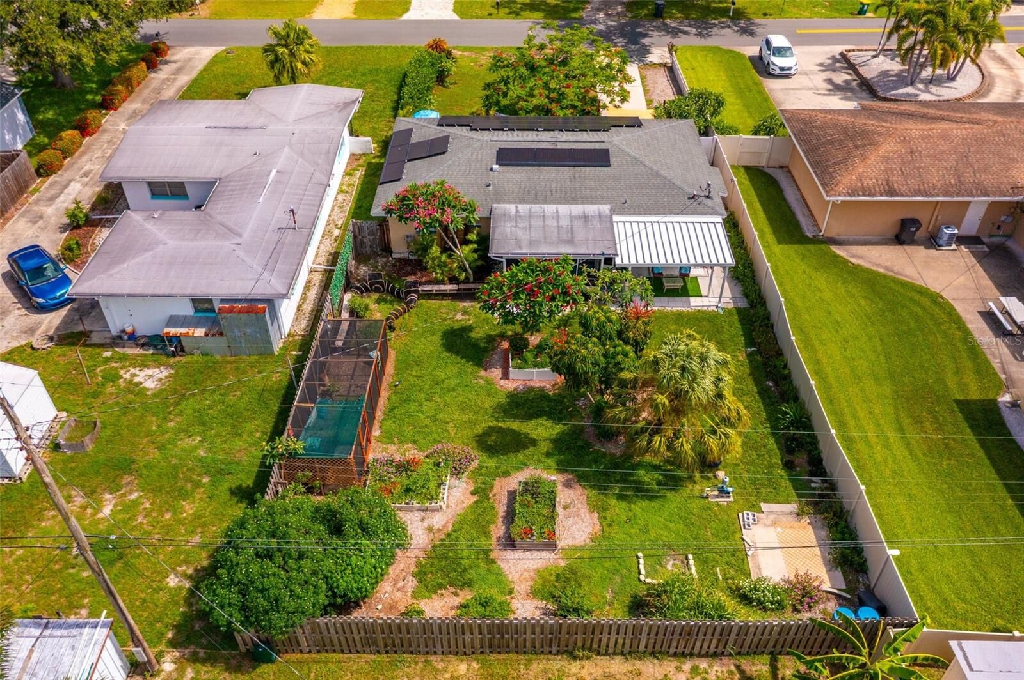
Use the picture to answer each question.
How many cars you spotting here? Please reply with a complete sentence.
Altogether the scene contains 2 cars.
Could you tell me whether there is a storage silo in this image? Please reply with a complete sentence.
No, the picture doesn't show any storage silo.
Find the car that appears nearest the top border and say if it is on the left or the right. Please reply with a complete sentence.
The car that appears nearest the top border is on the right side of the image.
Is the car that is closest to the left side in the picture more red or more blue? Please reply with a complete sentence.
From above, the car that is closest to the left side appears blue.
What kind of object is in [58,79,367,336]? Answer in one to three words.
house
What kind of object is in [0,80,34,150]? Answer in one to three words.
shed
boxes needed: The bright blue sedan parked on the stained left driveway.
[5,247,69,312]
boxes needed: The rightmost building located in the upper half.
[774,101,1024,261]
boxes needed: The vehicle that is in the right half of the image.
[757,35,801,74]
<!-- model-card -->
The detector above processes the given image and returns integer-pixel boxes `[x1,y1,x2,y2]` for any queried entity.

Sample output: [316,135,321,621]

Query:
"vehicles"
[5,247,69,312]
[757,35,801,74]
